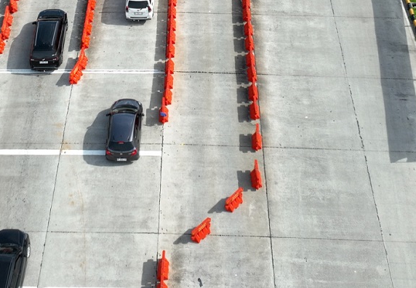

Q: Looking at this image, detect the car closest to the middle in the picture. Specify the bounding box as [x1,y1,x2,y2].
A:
[106,94,146,161]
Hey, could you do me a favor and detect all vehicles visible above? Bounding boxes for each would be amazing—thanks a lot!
[0,222,35,288]
[125,0,156,21]
[106,94,146,161]
[29,11,68,70]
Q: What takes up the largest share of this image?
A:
paved ground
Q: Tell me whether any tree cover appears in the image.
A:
No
